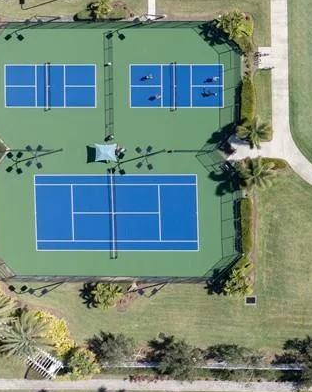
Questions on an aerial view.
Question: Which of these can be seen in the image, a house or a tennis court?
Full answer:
There is a tennis court in the scene.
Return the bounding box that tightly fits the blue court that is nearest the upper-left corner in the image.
[4,62,96,111]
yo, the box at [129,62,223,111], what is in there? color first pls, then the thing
blue sports court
